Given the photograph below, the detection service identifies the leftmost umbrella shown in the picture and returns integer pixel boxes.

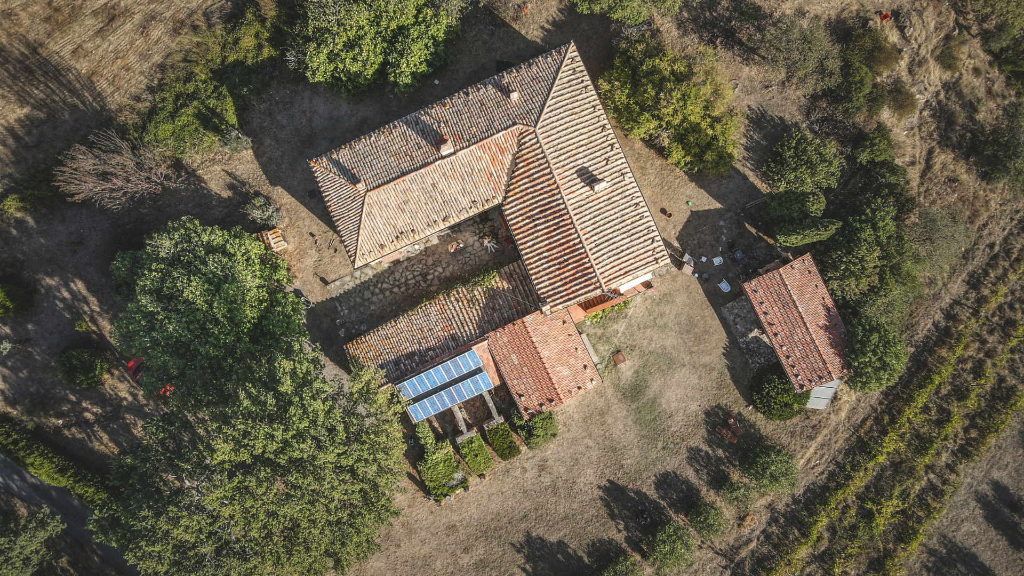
[483,234,499,256]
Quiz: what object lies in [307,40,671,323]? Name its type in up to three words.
house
